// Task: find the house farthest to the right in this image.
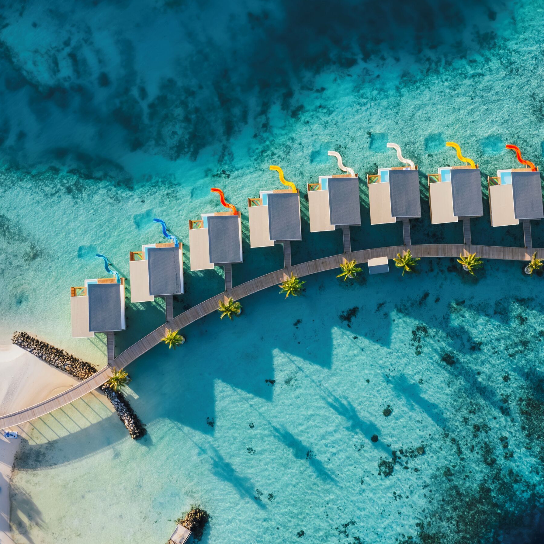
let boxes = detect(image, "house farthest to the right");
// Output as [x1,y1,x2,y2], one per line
[487,145,544,227]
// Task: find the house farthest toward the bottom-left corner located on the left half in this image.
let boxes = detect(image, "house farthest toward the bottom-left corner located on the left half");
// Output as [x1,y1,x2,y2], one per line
[70,253,129,339]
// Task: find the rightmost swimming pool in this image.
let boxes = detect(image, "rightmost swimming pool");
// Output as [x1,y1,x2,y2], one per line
[497,170,512,185]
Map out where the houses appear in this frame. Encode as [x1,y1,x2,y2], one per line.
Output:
[428,143,484,225]
[70,253,129,339]
[246,165,302,247]
[306,151,362,233]
[366,143,422,225]
[187,187,245,270]
[487,145,544,227]
[128,218,187,302]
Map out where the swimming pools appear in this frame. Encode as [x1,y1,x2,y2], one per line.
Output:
[438,168,453,182]
[379,168,392,182]
[318,176,332,190]
[497,170,512,185]
[260,190,274,206]
[202,213,214,228]
[144,244,156,260]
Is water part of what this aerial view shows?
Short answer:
Yes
